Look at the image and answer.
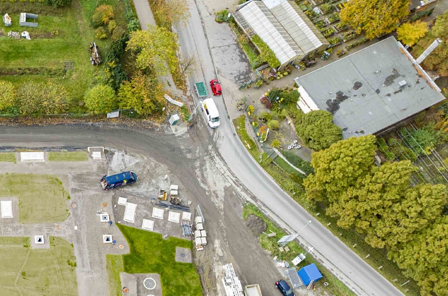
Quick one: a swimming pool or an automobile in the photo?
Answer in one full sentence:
I can see an automobile in this picture.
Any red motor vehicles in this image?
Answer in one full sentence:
Yes, the picture does show a red motor vehicle.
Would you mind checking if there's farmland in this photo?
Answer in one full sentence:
No, the picture contains no farmland.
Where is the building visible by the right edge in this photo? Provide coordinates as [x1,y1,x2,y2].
[289,34,448,152]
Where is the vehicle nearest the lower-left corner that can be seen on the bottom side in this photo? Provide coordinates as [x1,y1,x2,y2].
[96,170,137,195]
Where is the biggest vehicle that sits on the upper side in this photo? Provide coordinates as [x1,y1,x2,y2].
[197,93,222,128]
